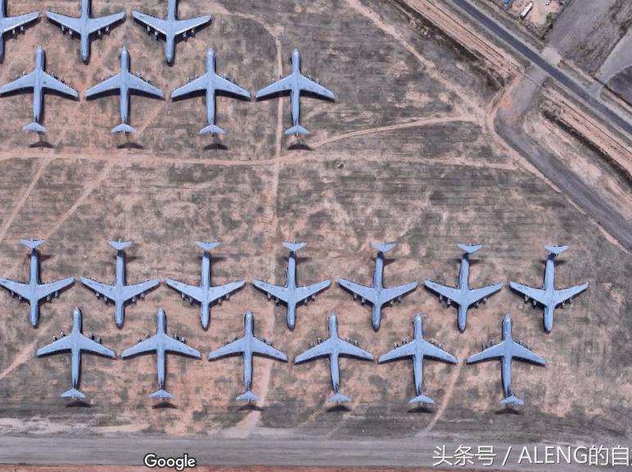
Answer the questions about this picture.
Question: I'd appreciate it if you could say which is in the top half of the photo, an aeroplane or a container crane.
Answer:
aeroplane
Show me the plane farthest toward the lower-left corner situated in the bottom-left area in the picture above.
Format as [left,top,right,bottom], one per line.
[37,307,116,400]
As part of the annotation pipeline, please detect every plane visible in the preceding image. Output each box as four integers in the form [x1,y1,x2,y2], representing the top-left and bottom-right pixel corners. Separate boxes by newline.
[48,0,125,64]
[467,314,545,407]
[209,310,287,403]
[424,242,502,332]
[295,311,374,404]
[378,312,456,405]
[133,0,212,65]
[166,240,245,329]
[86,46,164,134]
[0,238,74,328]
[0,0,40,62]
[339,241,417,332]
[0,45,77,134]
[37,307,116,400]
[256,48,335,136]
[82,239,159,328]
[171,48,250,135]
[123,308,200,401]
[252,240,330,331]
[510,243,588,333]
